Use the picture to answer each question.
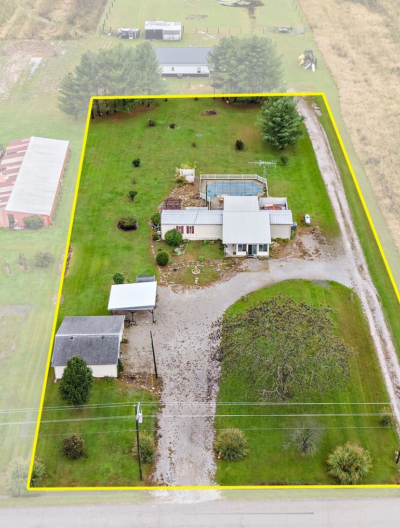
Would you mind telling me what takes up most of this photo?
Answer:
grass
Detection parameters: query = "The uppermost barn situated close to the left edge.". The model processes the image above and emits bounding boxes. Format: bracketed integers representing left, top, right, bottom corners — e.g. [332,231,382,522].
[0,136,73,227]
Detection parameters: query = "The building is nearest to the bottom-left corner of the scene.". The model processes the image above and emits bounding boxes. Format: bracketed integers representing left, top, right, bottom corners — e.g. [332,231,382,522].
[52,317,124,378]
